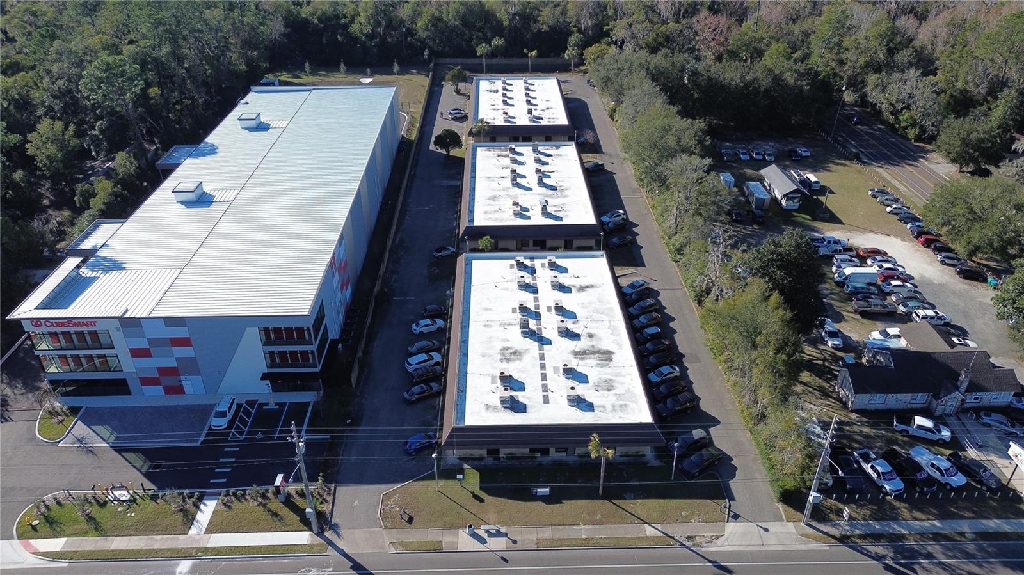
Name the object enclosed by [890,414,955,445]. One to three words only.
truck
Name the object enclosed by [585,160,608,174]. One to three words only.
car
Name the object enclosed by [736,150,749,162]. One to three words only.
vehicle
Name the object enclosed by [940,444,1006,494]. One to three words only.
truck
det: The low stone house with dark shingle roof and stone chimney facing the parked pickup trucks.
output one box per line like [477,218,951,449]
[833,317,1024,417]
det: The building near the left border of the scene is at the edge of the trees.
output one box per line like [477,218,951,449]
[3,83,404,394]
